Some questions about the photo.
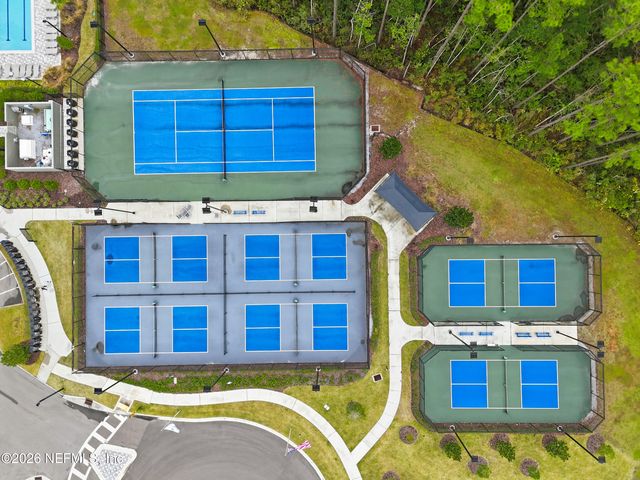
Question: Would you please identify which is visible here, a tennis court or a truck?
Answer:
tennis court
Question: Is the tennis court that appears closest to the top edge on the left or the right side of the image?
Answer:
left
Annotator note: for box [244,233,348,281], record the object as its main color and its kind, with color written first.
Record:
blue sports court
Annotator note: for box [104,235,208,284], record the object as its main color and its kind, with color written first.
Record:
blue sports court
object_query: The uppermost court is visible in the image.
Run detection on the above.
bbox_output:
[83,60,364,201]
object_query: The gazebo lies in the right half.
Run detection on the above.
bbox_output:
[374,171,438,232]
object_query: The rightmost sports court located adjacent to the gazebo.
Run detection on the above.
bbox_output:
[423,244,589,321]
